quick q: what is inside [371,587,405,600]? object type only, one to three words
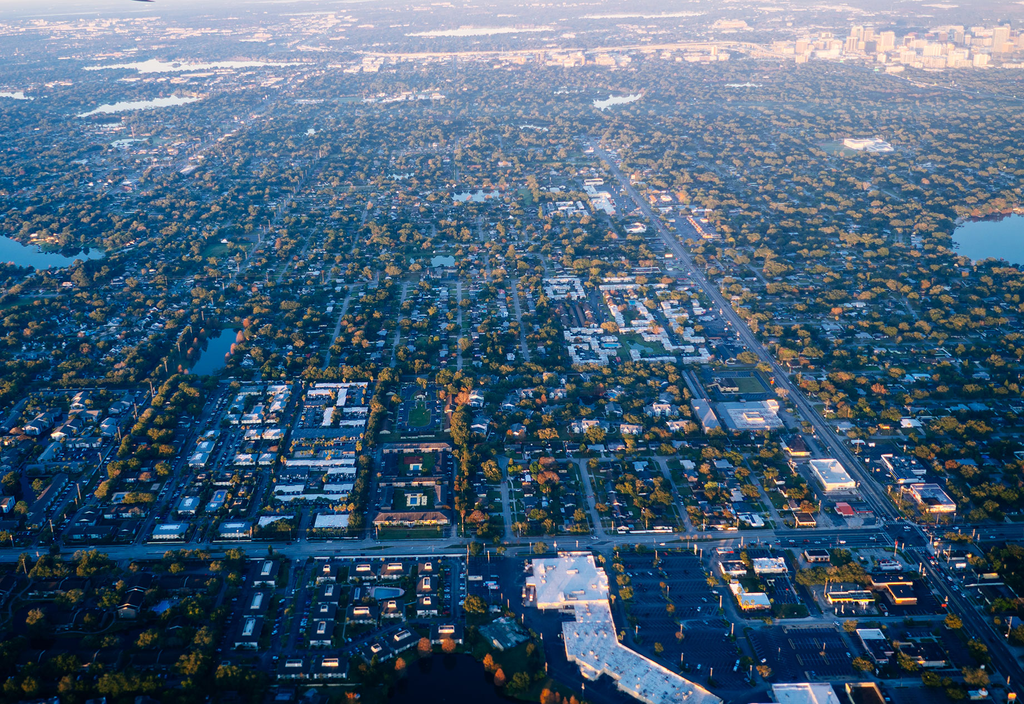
swimming pool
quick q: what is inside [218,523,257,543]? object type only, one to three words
building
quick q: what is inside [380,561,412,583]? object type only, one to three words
building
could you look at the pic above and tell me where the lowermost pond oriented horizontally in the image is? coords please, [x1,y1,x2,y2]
[390,654,504,704]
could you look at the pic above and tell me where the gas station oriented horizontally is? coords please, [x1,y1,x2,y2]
[828,590,875,608]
